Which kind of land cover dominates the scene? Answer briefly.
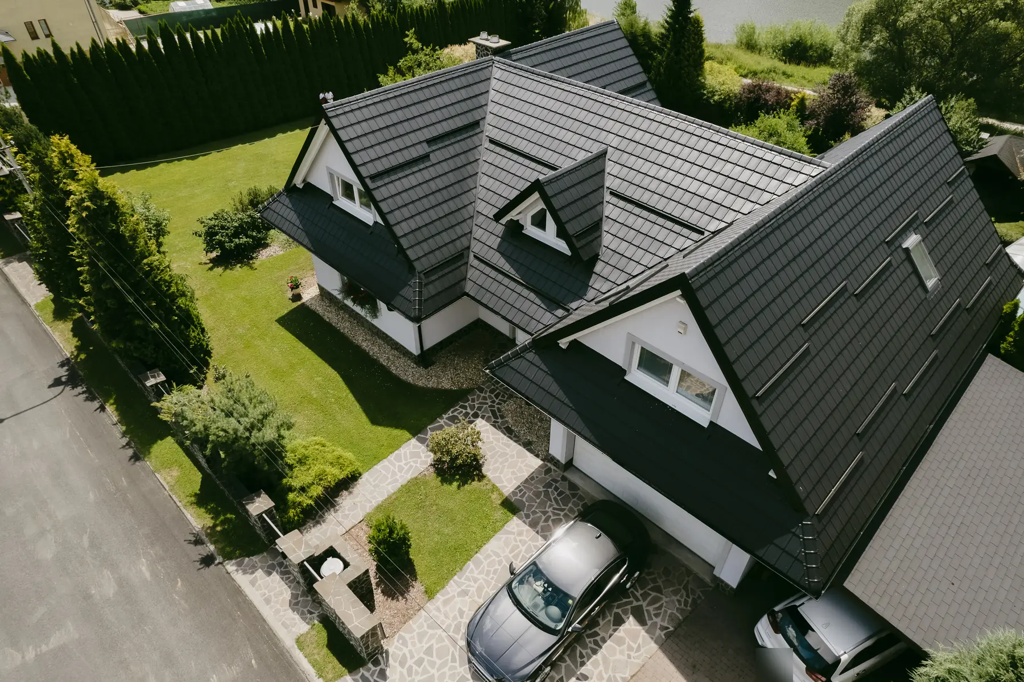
buildings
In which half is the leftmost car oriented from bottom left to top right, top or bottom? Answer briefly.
bottom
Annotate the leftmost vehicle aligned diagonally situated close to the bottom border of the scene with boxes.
[465,495,655,682]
